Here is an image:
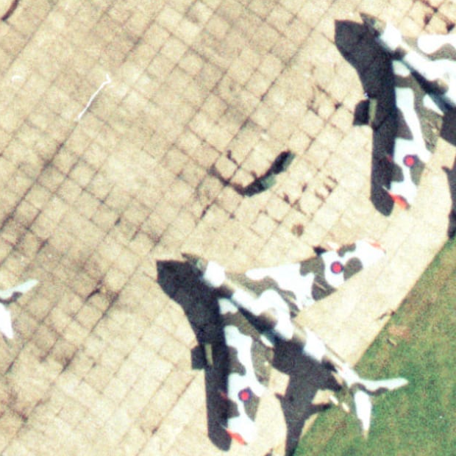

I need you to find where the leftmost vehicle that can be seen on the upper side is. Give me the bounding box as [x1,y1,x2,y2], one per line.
[254,171,281,193]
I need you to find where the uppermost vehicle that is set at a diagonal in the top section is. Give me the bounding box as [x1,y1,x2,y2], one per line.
[277,148,299,176]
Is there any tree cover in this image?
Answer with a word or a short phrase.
No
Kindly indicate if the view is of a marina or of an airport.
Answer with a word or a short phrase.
airport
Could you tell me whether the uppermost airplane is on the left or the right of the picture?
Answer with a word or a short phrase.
right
